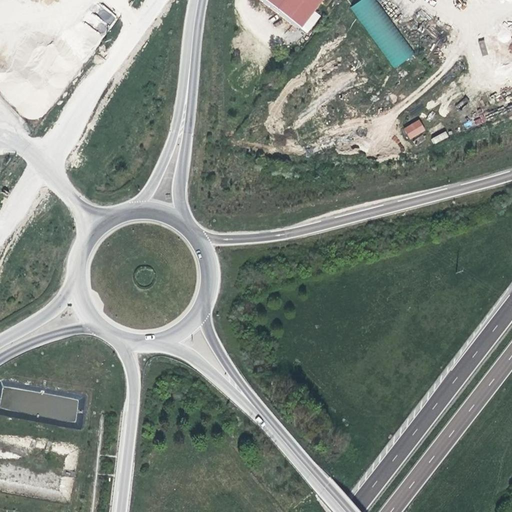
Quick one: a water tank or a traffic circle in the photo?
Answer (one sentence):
The one in the frame is a traffic circle.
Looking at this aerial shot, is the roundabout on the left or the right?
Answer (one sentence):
The roundabout appears in the left half of the scene.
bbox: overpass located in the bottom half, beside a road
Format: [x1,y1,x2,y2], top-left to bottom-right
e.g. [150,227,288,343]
[314,478,360,512]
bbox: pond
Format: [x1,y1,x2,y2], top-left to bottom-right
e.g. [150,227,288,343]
[0,379,89,432]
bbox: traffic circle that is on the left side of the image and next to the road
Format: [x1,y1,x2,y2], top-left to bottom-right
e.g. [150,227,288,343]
[68,200,220,352]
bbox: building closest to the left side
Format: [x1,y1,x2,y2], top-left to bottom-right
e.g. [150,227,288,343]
[260,0,323,34]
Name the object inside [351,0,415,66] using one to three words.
building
